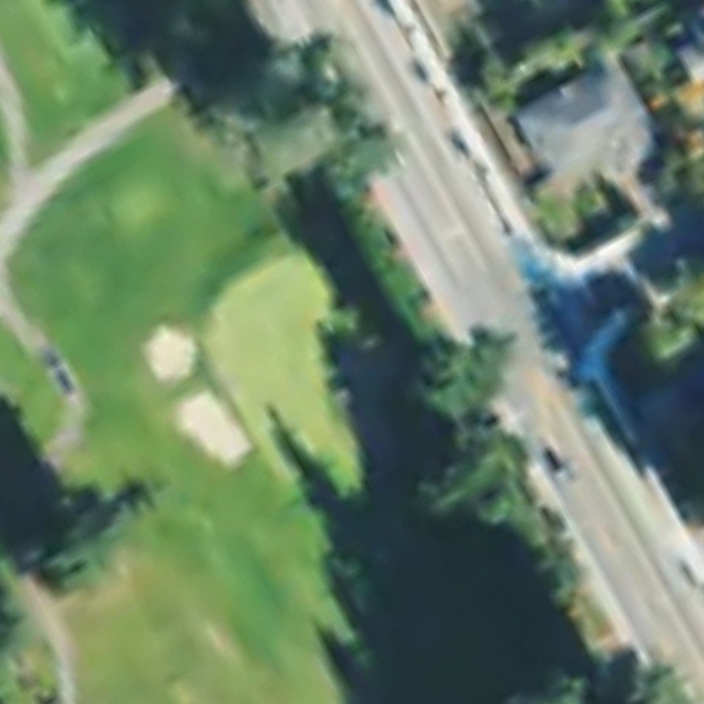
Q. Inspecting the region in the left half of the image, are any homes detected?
No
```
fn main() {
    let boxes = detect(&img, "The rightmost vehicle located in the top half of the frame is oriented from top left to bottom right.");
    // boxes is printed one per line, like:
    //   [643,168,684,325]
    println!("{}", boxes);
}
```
[452,130,471,154]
